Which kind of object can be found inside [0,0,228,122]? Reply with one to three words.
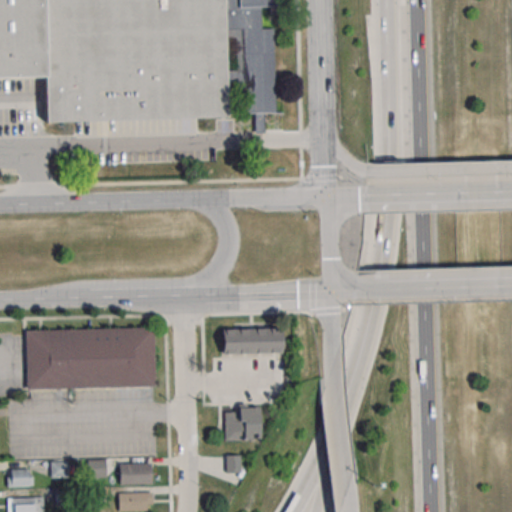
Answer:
building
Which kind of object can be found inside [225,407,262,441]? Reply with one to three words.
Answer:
house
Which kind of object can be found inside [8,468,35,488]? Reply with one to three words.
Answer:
house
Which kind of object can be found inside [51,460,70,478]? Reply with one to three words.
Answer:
shed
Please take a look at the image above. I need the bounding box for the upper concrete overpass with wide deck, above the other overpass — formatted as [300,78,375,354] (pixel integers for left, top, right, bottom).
[363,160,512,213]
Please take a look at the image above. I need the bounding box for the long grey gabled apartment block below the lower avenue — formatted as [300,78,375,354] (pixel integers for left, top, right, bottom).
[224,328,284,354]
